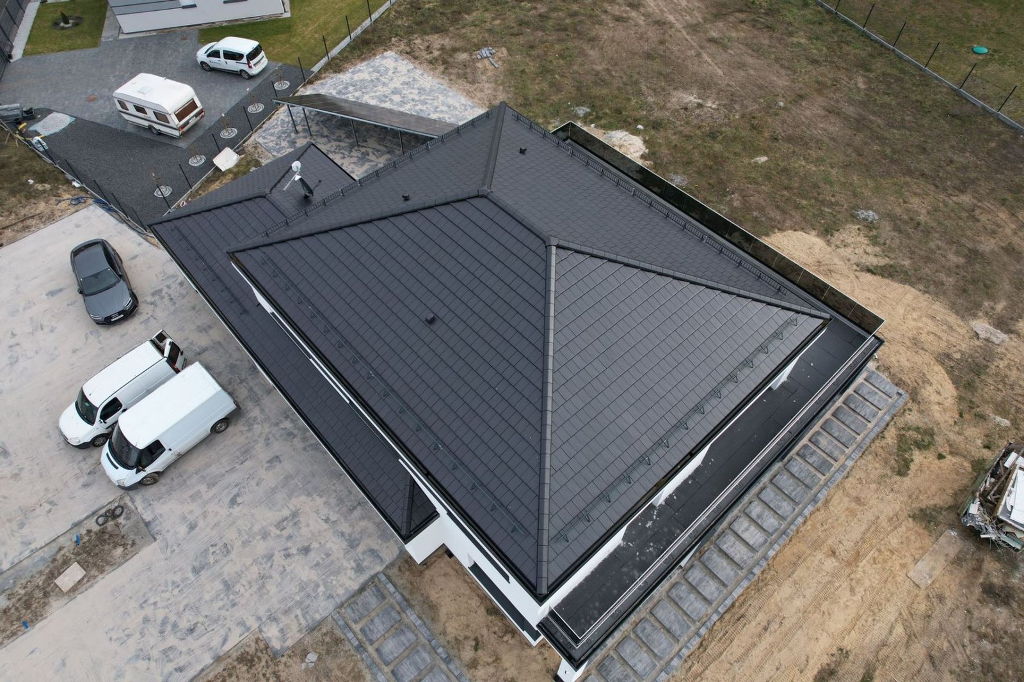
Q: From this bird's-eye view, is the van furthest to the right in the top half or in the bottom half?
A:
top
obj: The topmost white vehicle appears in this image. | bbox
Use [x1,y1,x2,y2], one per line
[196,34,270,81]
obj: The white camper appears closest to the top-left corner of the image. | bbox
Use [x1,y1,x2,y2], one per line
[106,69,205,137]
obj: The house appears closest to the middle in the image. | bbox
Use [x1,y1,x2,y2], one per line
[149,99,884,673]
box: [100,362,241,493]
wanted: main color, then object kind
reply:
white van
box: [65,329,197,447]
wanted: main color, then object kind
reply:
white van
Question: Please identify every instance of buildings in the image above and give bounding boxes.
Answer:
[149,99,884,673]
[106,0,289,32]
